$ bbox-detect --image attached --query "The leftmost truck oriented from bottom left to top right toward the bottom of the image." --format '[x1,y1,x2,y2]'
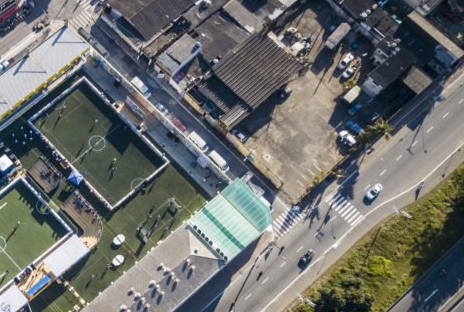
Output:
[294,247,317,268]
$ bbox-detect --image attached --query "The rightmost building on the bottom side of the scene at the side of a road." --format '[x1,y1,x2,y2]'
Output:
[188,178,272,262]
